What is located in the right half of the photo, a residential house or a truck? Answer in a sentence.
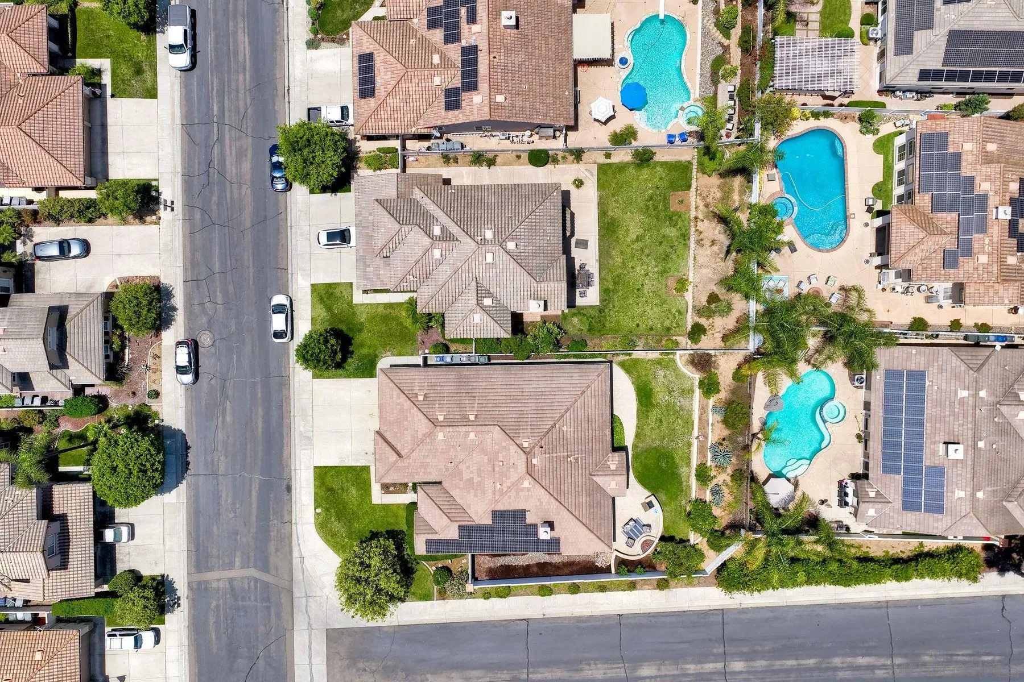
The one visible in the right half of the photo is a residential house.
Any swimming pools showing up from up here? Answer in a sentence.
Yes, I can see a swimming pool in this picture.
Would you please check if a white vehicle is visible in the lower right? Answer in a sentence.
No, the scene shows no white vehicle in the lower right.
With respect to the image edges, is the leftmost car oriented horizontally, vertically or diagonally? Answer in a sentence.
Seen from above, the leftmost car lies horizontally.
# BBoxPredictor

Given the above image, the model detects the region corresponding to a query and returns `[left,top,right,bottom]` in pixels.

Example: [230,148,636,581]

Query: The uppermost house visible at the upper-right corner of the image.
[862,0,1024,102]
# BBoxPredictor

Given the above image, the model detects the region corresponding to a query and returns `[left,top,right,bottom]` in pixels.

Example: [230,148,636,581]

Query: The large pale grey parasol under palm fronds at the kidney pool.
[762,476,793,507]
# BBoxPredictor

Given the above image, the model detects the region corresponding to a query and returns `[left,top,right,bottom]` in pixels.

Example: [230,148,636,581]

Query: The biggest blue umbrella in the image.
[620,84,647,111]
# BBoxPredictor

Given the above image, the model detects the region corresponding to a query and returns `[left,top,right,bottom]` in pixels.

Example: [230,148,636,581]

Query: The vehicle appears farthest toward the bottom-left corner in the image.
[103,626,160,653]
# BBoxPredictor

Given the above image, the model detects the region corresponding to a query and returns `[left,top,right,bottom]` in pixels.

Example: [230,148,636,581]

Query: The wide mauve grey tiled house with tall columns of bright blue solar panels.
[847,344,1024,537]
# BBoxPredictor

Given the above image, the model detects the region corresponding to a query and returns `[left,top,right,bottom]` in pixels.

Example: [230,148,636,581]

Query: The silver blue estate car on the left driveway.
[32,236,88,260]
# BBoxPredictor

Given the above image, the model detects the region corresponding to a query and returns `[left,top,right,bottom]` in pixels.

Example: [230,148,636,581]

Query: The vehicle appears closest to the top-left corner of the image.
[167,4,195,72]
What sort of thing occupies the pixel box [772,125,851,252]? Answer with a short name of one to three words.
swimming pool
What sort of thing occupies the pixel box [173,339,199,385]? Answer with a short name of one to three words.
car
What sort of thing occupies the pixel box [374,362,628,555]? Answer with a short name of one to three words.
house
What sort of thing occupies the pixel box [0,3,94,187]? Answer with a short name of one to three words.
house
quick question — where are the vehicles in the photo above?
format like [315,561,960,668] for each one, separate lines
[315,225,356,249]
[167,4,195,72]
[103,626,160,653]
[32,236,88,260]
[173,339,199,385]
[307,102,354,127]
[269,294,293,342]
[98,522,136,546]
[268,144,292,192]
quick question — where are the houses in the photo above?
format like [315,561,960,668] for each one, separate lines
[868,116,1024,305]
[862,0,1024,102]
[374,362,628,555]
[0,482,105,602]
[0,3,94,187]
[847,344,1024,537]
[354,172,571,340]
[350,0,574,136]
[0,625,91,682]
[0,264,114,391]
